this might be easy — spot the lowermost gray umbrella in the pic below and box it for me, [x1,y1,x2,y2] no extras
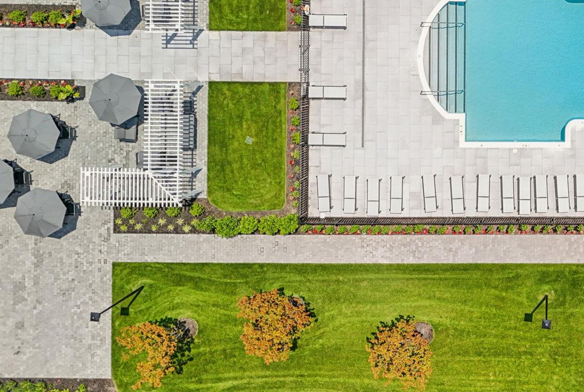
[15,185,69,238]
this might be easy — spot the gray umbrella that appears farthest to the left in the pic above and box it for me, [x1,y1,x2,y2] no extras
[0,157,19,202]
